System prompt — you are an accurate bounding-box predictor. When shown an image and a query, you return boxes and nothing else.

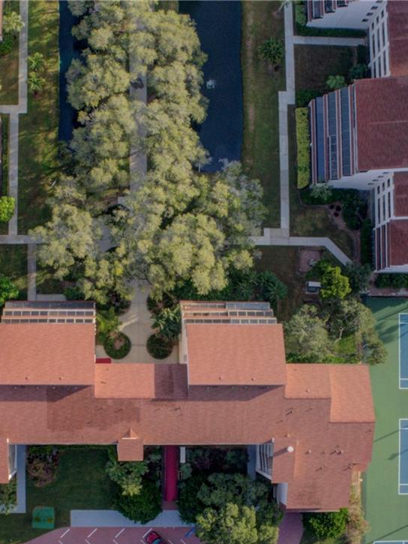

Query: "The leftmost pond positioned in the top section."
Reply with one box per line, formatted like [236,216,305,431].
[60,0,94,156]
